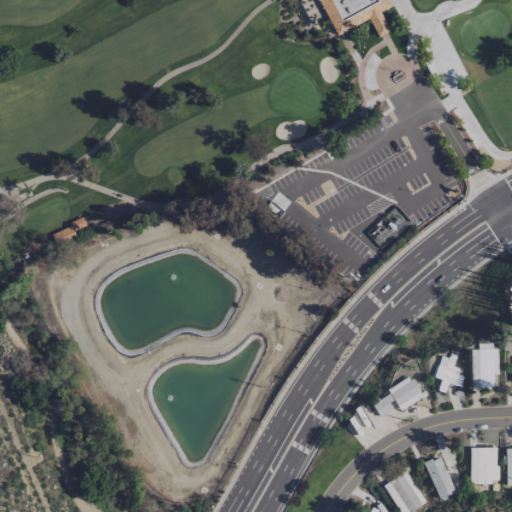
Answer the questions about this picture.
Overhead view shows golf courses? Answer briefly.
Yes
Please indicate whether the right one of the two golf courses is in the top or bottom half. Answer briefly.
top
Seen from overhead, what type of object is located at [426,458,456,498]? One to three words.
house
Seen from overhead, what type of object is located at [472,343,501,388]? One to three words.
house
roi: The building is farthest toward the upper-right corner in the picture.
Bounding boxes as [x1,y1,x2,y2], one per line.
[321,0,394,36]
